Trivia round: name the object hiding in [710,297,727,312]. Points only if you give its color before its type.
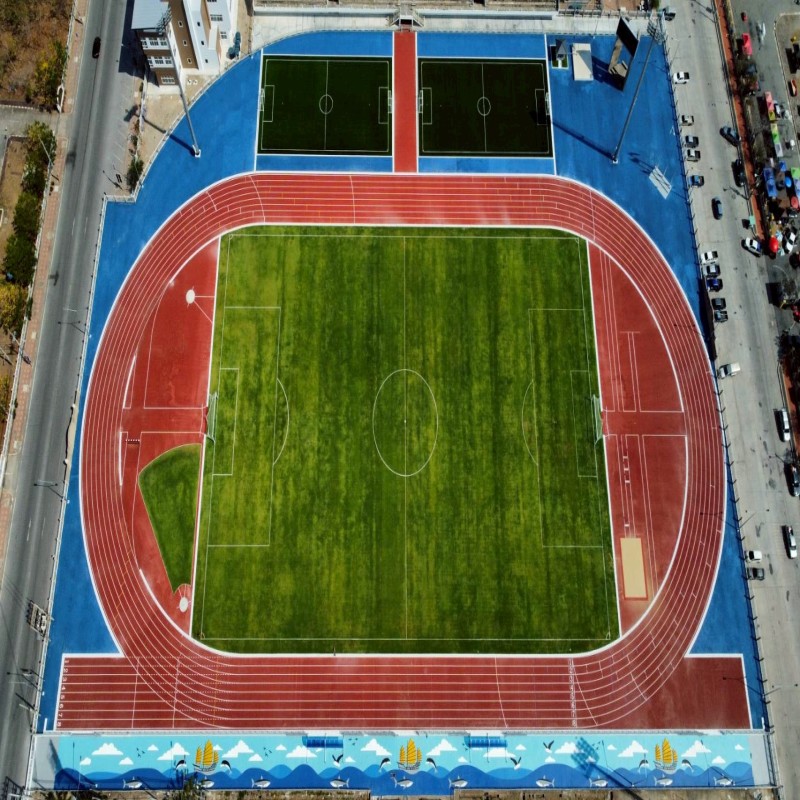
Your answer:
black car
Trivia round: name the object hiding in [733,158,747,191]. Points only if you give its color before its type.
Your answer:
black car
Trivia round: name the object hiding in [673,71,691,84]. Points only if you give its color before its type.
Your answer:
white vehicle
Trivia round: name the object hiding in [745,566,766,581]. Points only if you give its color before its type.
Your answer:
gray car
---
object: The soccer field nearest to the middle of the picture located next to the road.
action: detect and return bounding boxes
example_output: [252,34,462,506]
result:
[190,225,620,652]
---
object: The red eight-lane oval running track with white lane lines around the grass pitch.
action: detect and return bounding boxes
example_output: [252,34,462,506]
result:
[57,173,750,730]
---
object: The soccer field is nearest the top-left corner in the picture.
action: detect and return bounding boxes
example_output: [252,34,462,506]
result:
[256,55,392,155]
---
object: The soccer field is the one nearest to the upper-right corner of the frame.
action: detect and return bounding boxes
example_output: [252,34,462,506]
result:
[418,57,553,157]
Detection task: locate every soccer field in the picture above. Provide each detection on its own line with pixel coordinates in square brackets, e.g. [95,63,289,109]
[418,57,553,157]
[190,225,620,652]
[256,55,392,155]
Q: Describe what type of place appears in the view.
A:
sports ground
